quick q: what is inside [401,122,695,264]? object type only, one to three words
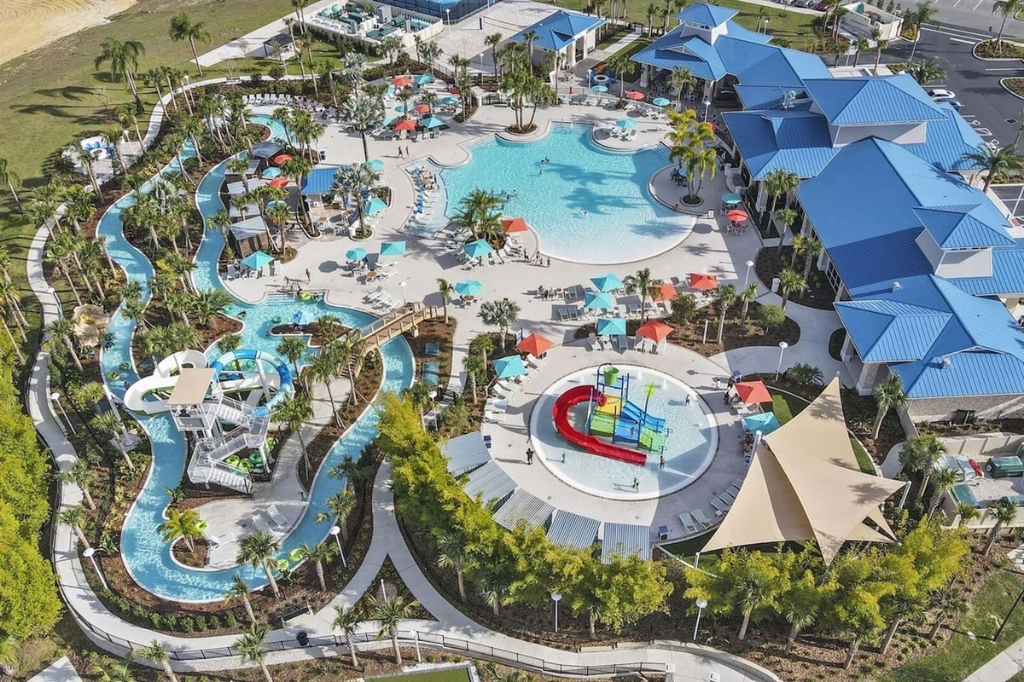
swimming pool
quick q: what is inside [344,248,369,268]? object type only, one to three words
umbrella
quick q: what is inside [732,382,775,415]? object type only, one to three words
umbrella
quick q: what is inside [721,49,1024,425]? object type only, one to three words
building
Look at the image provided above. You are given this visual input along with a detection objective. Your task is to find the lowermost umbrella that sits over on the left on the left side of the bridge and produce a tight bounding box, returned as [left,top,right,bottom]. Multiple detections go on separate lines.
[288,308,314,339]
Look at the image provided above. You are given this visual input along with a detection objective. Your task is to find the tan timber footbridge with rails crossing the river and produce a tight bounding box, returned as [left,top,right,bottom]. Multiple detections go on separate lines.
[333,292,449,380]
